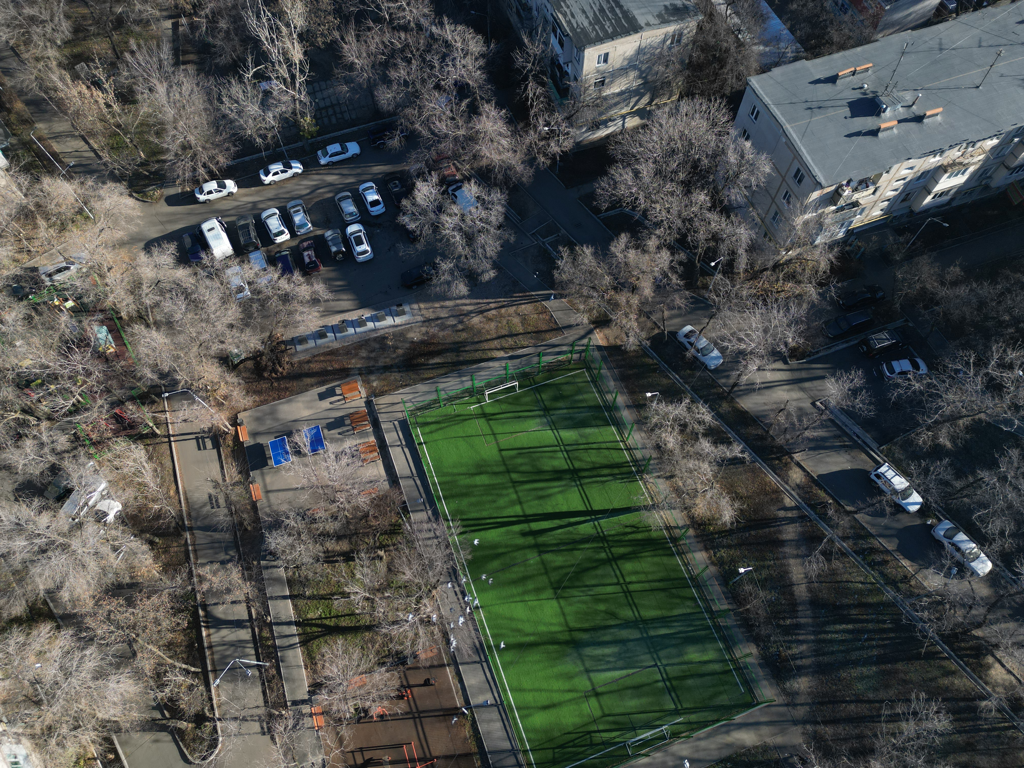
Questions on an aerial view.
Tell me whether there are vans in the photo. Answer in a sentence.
Yes, there is a van in the image.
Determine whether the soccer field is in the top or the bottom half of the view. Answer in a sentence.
You can find the soccer field in the bottom half.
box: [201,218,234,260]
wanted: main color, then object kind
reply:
white van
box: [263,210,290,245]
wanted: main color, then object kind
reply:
white car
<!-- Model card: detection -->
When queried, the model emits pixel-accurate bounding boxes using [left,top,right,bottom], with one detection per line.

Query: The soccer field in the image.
[411,360,754,768]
